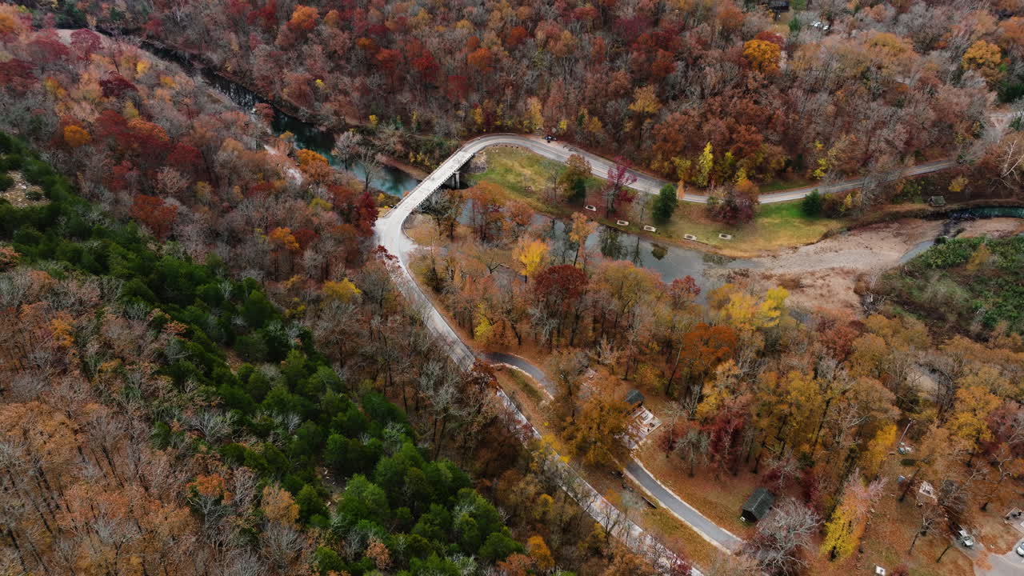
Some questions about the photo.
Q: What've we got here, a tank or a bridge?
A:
bridge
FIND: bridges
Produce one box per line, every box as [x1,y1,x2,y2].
[394,145,479,210]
